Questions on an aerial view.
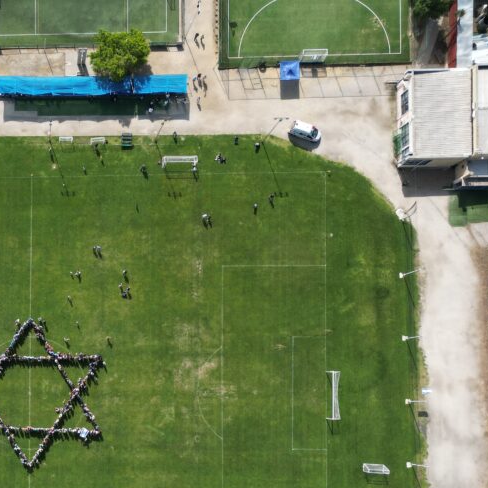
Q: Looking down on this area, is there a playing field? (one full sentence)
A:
Yes, the image includes a playing field.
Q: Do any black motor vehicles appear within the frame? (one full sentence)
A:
No, no black motor vehicle is visible in the scene.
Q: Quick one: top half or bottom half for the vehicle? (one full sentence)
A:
It is in the top half that the vehicle appears.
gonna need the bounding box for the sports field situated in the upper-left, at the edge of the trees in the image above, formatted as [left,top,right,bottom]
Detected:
[0,0,182,46]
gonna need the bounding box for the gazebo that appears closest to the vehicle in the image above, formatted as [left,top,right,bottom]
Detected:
[275,61,300,87]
